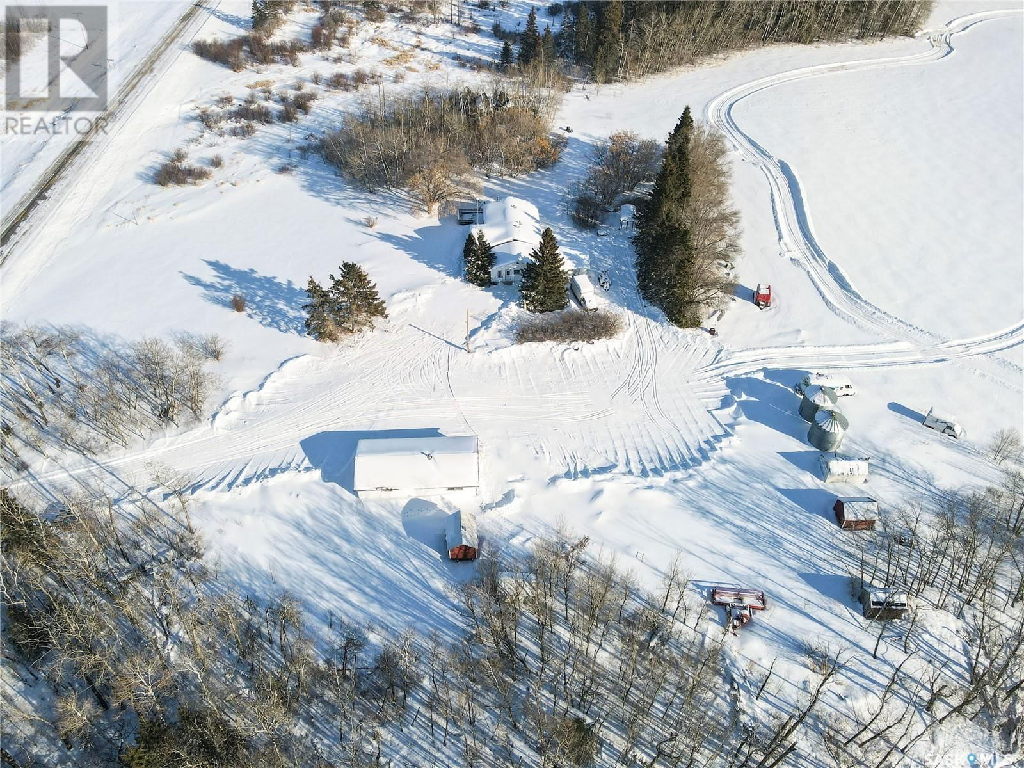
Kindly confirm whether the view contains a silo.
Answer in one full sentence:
Yes, the picture does show a silo.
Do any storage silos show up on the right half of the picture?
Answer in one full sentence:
Yes, a storage silo can be seen on the right half of the picture.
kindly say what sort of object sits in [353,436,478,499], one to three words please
building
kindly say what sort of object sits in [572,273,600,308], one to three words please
van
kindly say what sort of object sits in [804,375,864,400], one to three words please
camper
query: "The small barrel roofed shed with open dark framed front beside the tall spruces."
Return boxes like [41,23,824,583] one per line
[617,207,637,229]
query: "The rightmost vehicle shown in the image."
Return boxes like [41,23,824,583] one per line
[921,406,968,442]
